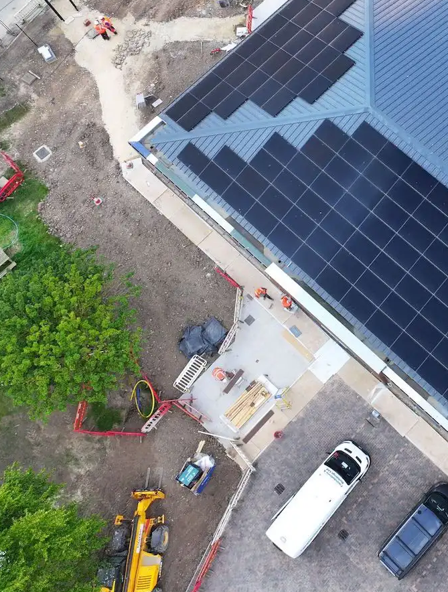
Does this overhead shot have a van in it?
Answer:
Yes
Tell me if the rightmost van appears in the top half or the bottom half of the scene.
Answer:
bottom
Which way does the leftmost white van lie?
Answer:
on a diagonal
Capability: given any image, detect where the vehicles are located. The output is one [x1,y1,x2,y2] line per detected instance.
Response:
[267,439,375,560]
[88,468,167,592]
[378,480,448,579]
